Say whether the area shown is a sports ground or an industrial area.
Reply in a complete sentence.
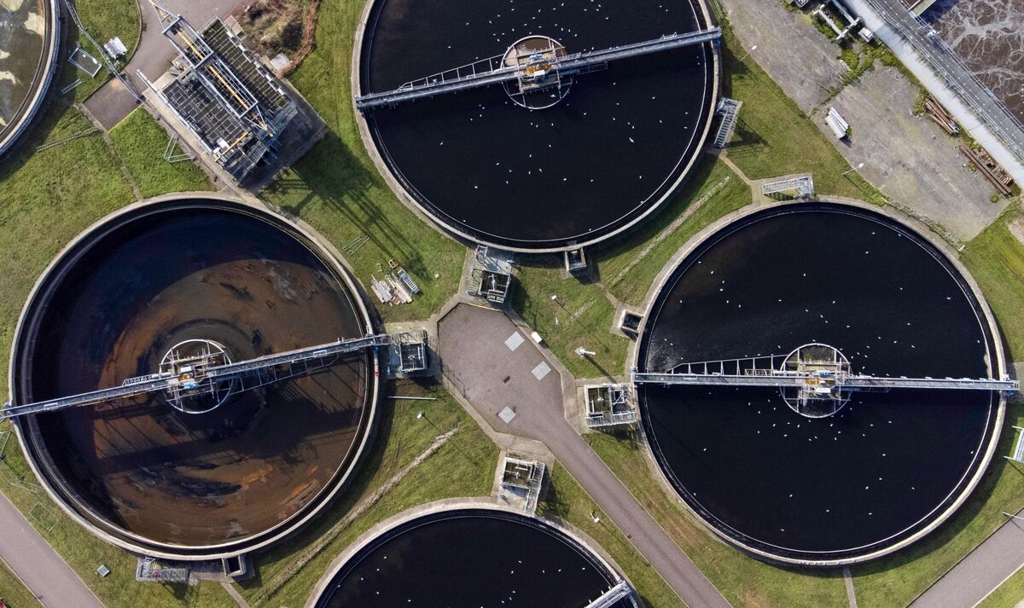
This image shows an industrial area.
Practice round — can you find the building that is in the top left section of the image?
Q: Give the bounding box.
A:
[136,0,309,187]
